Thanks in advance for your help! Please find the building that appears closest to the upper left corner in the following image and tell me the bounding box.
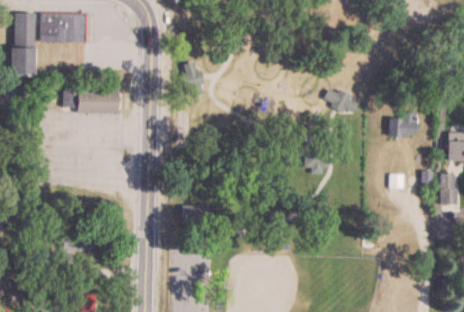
[14,12,36,46]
